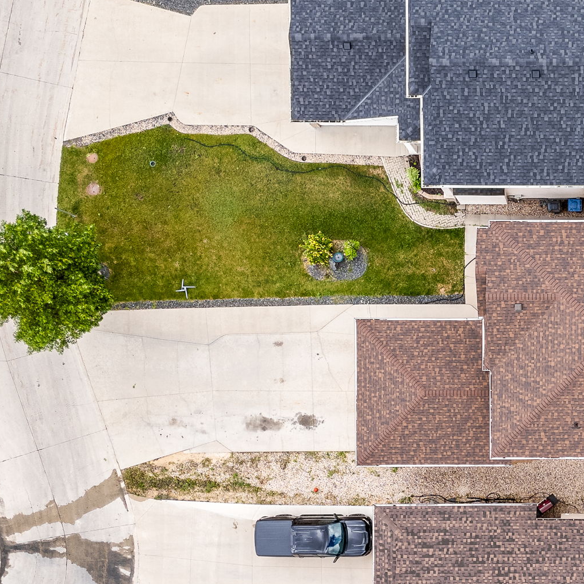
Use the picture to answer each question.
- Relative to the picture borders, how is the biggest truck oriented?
from left to right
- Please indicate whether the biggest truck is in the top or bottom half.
bottom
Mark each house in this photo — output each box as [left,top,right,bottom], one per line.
[372,504,584,584]
[355,218,584,467]
[281,0,584,209]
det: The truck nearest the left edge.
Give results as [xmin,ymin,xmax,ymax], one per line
[255,513,372,563]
